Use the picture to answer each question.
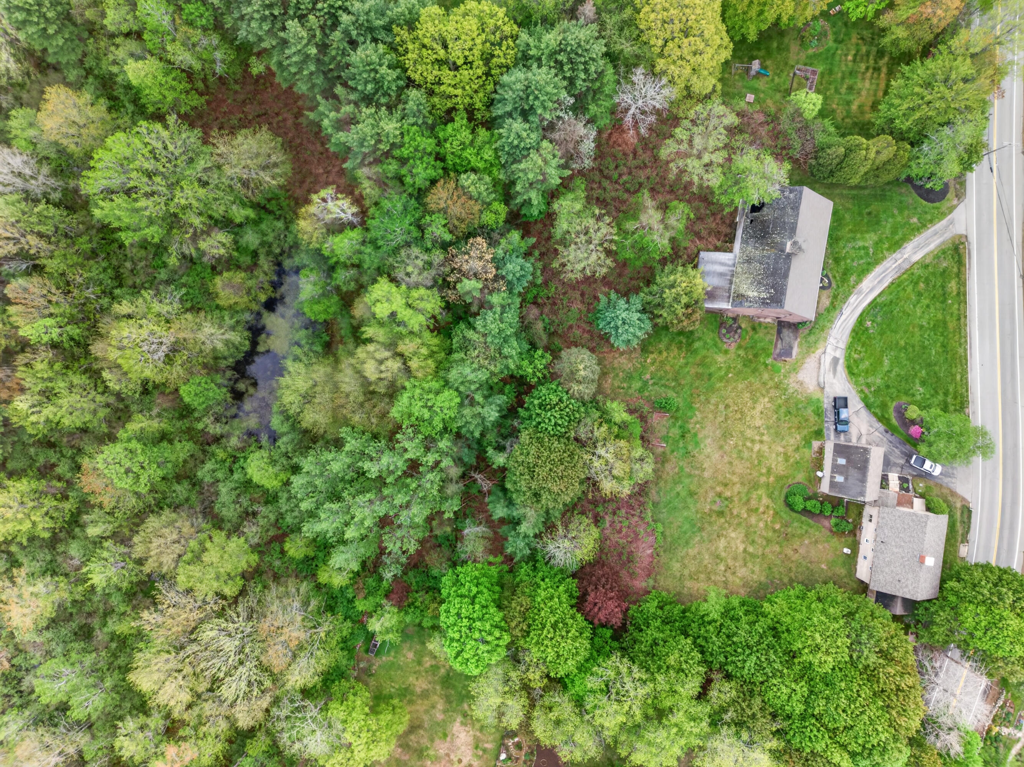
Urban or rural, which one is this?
rural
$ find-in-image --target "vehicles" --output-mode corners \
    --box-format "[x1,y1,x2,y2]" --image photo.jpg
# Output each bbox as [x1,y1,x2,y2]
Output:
[834,396,853,433]
[908,453,944,476]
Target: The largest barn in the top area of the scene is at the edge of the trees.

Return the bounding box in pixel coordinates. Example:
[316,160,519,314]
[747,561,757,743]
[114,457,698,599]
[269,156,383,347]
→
[722,186,834,322]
